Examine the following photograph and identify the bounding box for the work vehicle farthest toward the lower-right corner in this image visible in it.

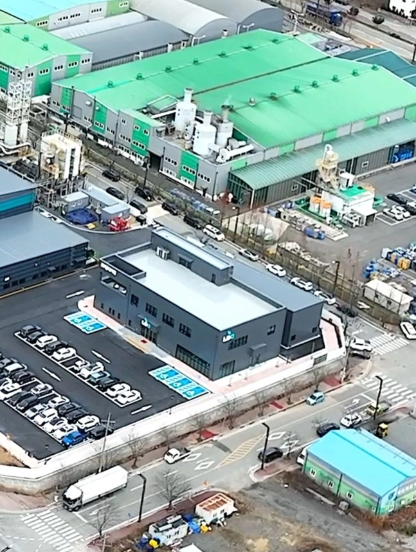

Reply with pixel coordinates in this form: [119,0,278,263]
[377,422,396,439]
